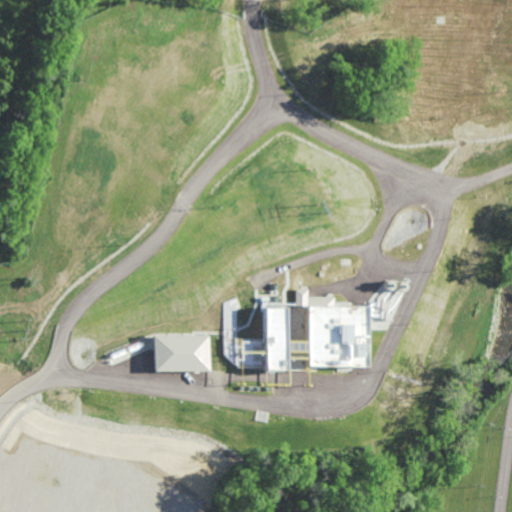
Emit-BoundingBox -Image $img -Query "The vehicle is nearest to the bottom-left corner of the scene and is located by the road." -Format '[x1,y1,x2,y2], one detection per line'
[102,352,132,366]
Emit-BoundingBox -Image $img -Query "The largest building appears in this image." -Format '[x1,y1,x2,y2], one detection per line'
[258,288,372,373]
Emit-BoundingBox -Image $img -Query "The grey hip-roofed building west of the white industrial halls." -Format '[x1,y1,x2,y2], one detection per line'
[154,335,211,374]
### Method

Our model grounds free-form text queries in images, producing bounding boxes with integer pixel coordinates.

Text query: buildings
[154,335,211,374]
[258,288,372,373]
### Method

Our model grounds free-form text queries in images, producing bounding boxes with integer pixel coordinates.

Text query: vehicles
[102,352,132,366]
[184,374,194,385]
